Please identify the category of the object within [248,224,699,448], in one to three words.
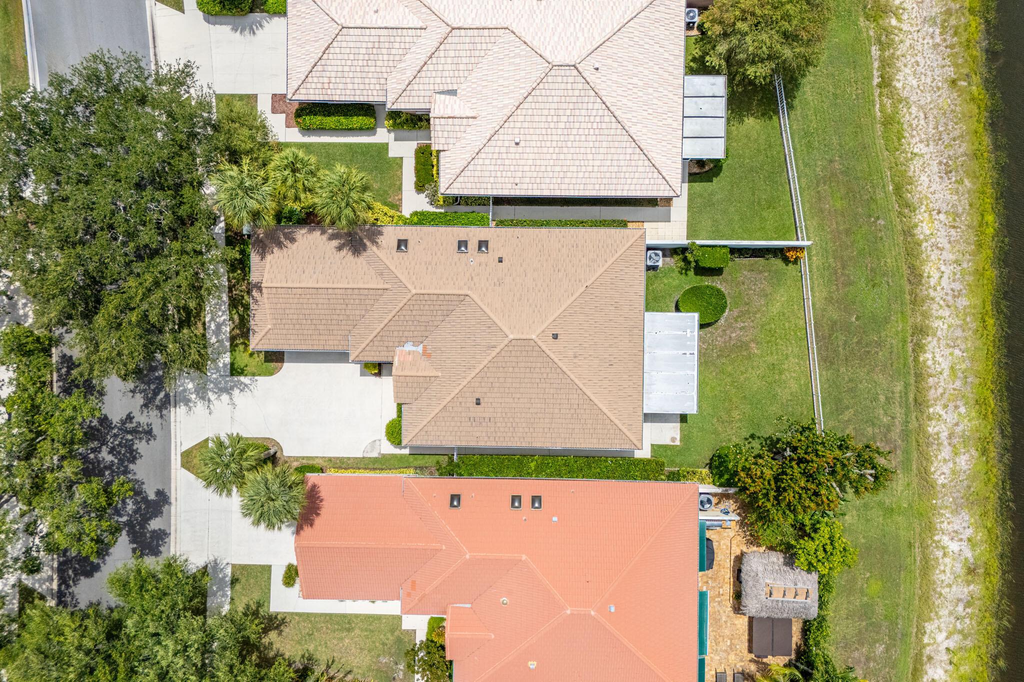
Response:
house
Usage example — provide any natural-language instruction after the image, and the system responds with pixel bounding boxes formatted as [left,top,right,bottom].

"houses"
[286,0,726,205]
[294,472,709,682]
[248,224,699,448]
